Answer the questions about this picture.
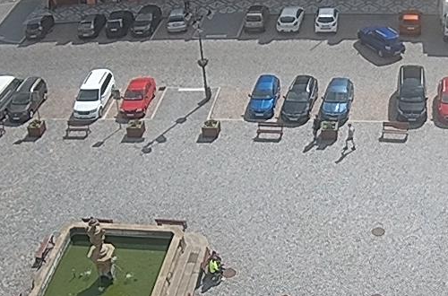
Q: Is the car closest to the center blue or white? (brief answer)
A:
blue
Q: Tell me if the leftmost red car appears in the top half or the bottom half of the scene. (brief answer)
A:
top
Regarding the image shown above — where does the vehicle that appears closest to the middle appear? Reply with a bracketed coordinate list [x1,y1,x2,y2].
[246,74,282,114]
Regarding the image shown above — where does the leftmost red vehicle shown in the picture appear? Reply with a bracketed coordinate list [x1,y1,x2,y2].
[118,75,156,114]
